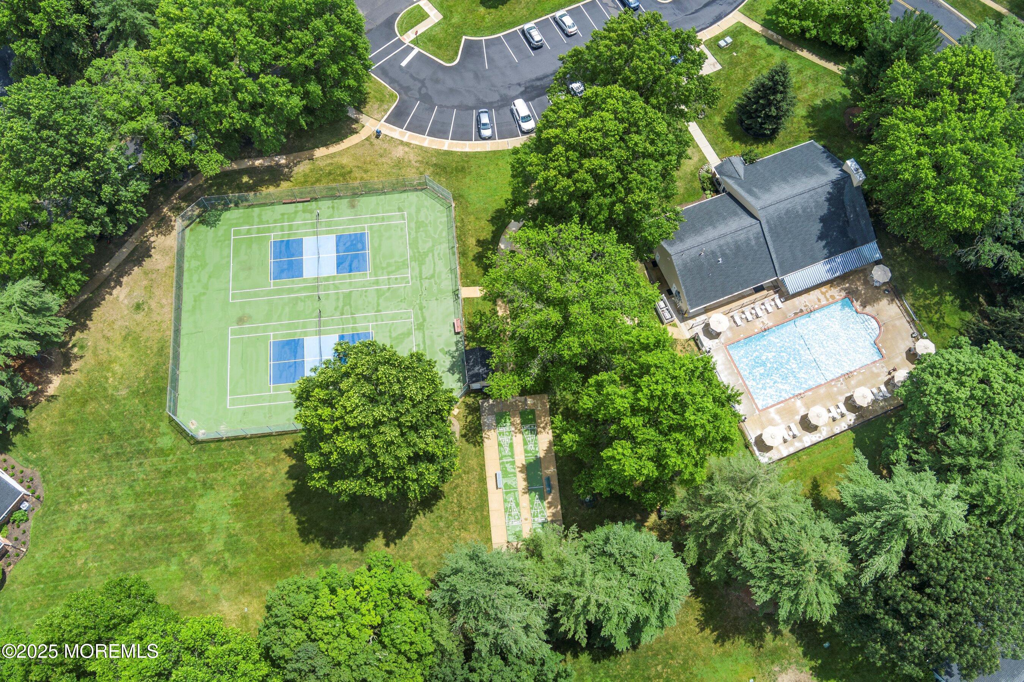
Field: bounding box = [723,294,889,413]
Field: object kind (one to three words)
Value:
swimming pool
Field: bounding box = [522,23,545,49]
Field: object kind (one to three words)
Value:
car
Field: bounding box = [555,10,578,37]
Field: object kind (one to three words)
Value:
car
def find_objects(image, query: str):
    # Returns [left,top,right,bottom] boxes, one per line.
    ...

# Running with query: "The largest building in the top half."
[644,141,877,314]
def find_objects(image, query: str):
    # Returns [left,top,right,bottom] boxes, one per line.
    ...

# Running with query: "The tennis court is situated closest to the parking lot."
[230,212,410,302]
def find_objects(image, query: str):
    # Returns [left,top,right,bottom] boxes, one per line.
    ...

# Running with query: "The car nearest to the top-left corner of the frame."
[477,109,493,139]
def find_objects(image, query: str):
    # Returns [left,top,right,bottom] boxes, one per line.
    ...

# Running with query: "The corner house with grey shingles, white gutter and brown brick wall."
[0,471,47,529]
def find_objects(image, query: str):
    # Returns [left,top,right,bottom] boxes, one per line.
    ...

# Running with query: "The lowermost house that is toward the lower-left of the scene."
[0,532,38,566]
